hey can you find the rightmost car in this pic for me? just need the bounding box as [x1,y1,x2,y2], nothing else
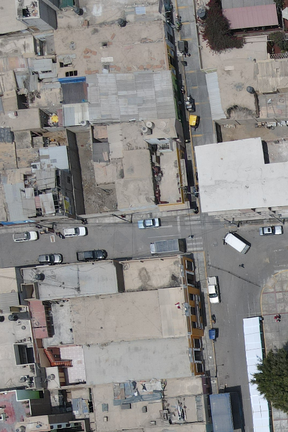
[260,223,284,236]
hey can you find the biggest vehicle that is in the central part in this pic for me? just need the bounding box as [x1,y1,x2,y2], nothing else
[149,238,187,255]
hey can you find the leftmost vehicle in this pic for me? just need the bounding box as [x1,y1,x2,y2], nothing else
[12,229,40,241]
